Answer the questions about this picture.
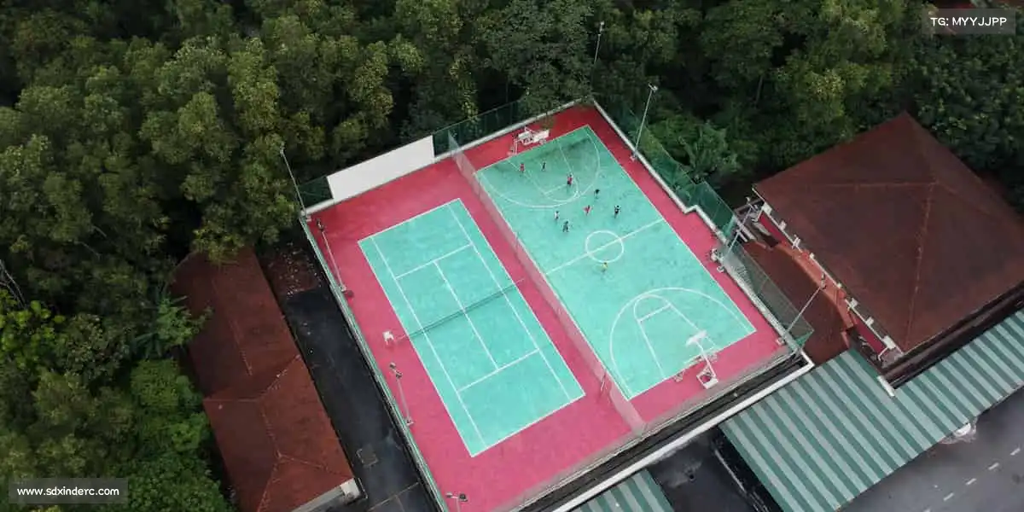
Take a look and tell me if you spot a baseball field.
No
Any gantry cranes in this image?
No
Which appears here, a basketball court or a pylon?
basketball court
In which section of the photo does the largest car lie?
bottom right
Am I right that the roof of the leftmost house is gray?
No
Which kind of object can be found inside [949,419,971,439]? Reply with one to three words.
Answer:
car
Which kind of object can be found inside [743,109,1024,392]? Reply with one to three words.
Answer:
building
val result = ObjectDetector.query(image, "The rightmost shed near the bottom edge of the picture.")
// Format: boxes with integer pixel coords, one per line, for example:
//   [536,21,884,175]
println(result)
[724,313,1024,512]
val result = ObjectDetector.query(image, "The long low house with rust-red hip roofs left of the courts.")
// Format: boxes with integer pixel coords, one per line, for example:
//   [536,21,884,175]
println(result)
[164,227,368,512]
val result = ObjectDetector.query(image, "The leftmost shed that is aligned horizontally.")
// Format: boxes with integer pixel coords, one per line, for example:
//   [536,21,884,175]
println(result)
[579,472,672,512]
